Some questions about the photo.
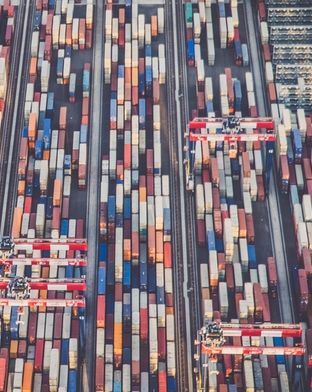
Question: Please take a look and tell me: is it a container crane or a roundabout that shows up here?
container crane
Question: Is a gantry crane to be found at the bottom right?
Yes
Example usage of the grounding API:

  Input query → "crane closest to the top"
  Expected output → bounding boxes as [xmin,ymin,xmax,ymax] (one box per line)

[185,115,273,191]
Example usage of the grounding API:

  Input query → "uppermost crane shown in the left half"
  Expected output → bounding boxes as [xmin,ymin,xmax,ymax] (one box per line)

[0,235,86,316]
